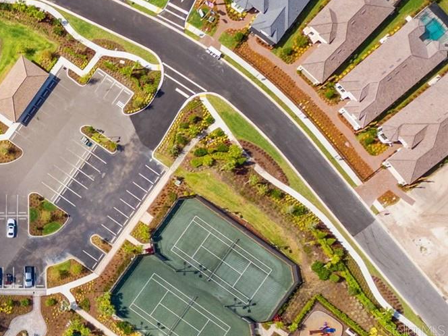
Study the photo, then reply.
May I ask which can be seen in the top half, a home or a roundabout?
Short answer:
home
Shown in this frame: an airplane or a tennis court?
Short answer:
tennis court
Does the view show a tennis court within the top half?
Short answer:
No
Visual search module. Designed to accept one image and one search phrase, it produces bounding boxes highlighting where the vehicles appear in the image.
[6,272,13,285]
[203,45,220,58]
[6,218,16,238]
[79,136,92,147]
[25,265,34,286]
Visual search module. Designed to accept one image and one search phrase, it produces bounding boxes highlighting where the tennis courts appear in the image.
[153,196,301,321]
[113,254,255,336]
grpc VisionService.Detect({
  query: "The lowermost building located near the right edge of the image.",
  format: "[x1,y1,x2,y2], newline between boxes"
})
[377,74,448,185]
